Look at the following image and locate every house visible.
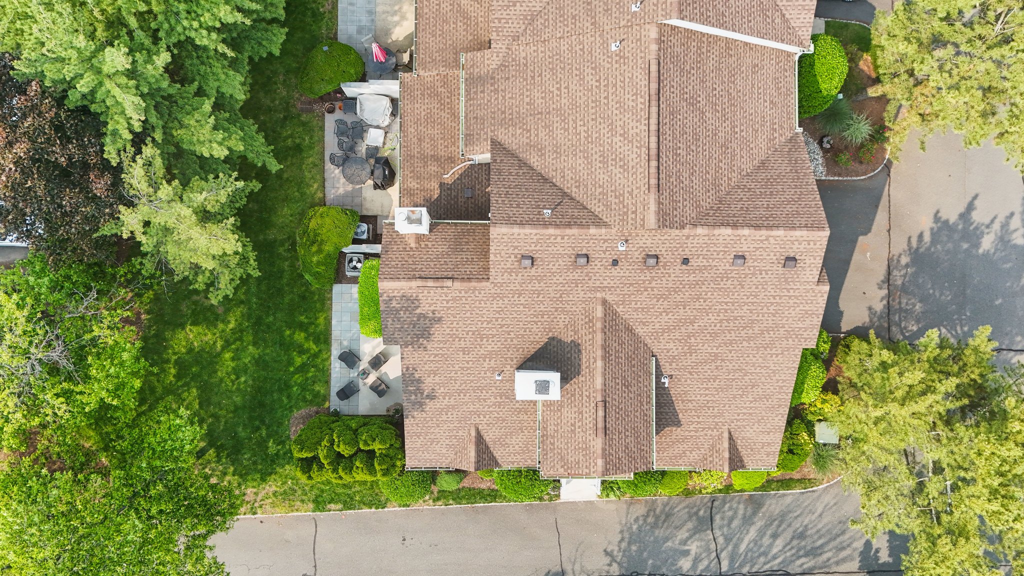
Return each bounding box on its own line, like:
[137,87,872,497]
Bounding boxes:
[379,0,831,481]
